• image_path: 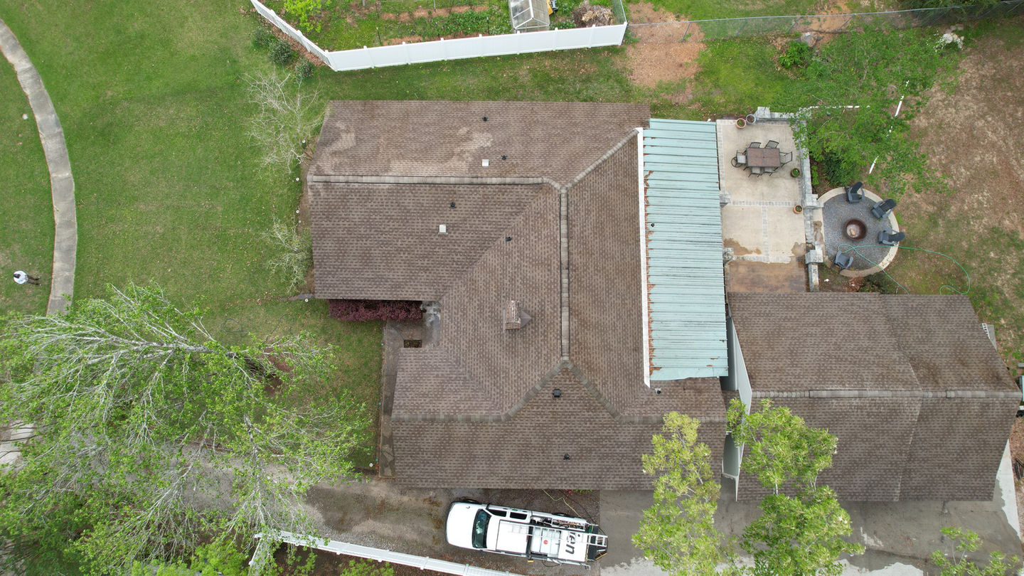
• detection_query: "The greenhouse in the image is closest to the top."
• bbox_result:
[513,0,552,33]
